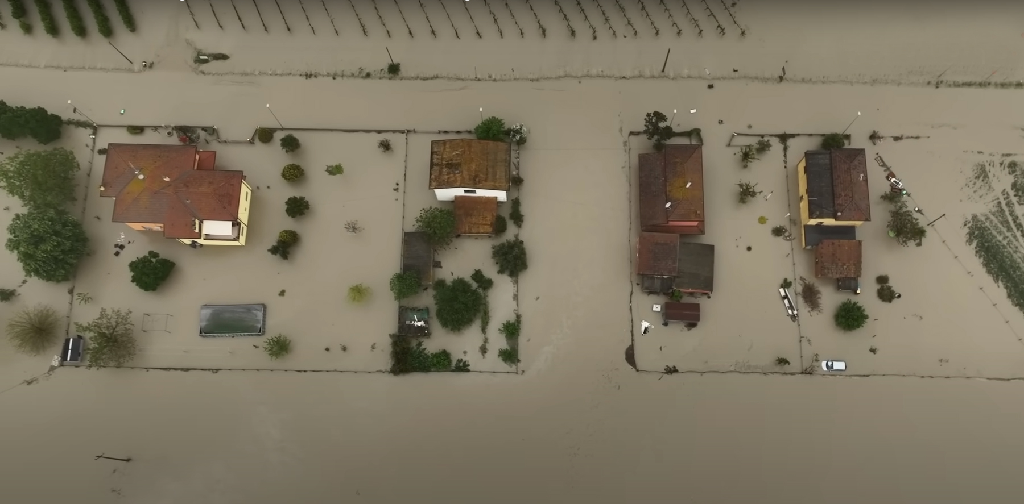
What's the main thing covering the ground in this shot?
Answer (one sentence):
The largest share of the image is taken up by water.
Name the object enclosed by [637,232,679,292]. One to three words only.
shed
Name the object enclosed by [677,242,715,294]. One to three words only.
barn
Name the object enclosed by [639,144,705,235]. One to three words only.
house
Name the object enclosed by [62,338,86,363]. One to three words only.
shed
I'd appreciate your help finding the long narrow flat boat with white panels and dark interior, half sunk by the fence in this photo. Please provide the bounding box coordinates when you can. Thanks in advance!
[780,288,798,316]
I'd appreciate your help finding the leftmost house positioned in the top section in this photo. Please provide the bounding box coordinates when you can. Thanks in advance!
[98,142,249,245]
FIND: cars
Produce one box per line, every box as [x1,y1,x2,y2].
[820,359,847,372]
